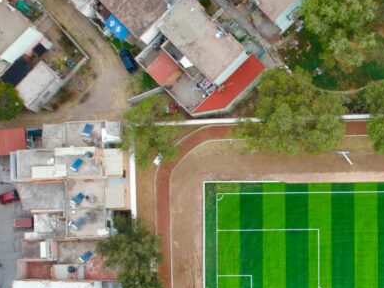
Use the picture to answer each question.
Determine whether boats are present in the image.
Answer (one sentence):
No, there's no boat here.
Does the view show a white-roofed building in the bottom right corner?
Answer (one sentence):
No, the scene shows no white-roofed building in the bottom right corner.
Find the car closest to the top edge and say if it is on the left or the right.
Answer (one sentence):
The car closest to the top edge sits on the left side.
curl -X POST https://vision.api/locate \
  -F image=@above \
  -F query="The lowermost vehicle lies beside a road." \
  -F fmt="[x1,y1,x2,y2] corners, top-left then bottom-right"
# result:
[10,216,33,228]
